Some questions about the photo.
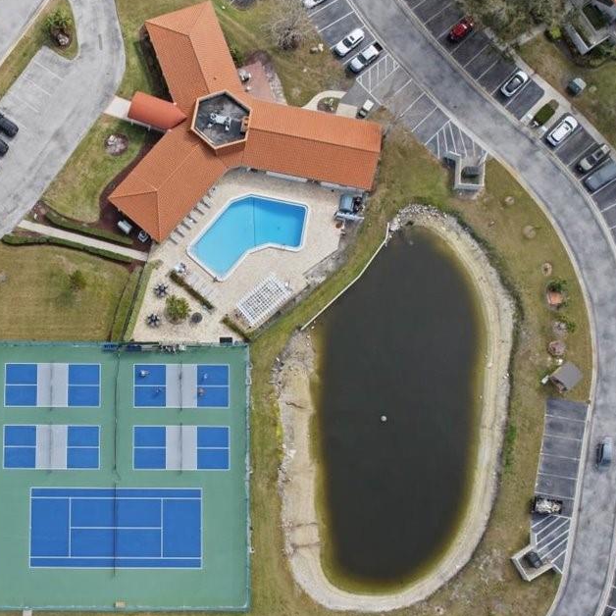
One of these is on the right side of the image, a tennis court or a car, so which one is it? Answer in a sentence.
The one visible on the right side of the image is a car.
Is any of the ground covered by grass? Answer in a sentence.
Yes, there is grass in the image.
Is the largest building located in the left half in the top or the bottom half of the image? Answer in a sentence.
You can find the largest building located in the left half in the top half.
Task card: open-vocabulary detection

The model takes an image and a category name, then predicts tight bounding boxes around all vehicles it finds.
[548,114,583,145]
[587,159,616,188]
[598,437,616,470]
[579,143,614,170]
[351,39,386,71]
[301,0,323,9]
[501,68,532,98]
[334,24,369,55]
[0,138,10,155]
[448,18,475,43]
[360,95,377,116]
[0,110,21,137]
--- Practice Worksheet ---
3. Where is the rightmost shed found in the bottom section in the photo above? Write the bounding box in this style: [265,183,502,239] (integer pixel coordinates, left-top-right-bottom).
[553,360,590,395]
